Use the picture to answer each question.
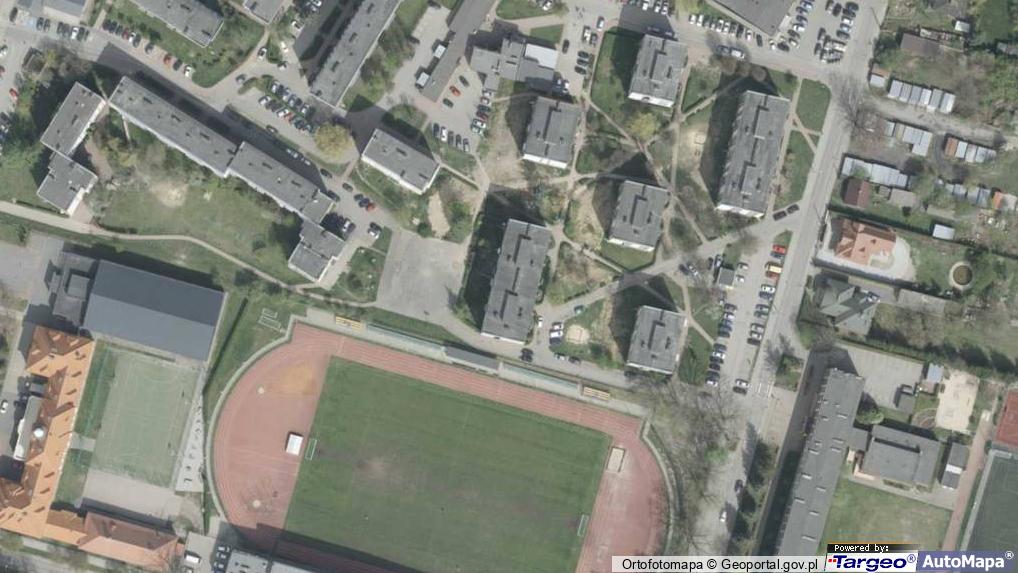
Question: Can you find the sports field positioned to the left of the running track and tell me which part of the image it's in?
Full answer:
The sports field positioned to the left of the running track is in the bottom left part of the image.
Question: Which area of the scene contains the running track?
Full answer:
The running track appears toward the bottom of the photo.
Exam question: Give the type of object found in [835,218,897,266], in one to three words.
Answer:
house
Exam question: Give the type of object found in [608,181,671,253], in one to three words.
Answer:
building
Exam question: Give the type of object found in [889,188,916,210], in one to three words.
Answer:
shed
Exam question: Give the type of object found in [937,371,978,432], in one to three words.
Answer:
sports court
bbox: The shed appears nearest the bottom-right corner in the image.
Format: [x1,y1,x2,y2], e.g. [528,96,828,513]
[941,443,969,489]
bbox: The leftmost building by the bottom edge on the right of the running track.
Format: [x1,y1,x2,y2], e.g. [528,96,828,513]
[770,371,864,573]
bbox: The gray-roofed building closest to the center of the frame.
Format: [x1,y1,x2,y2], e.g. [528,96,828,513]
[481,219,551,345]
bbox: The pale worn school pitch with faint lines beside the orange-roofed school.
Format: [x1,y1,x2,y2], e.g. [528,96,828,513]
[89,345,200,488]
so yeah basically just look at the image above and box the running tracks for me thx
[208,315,680,573]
